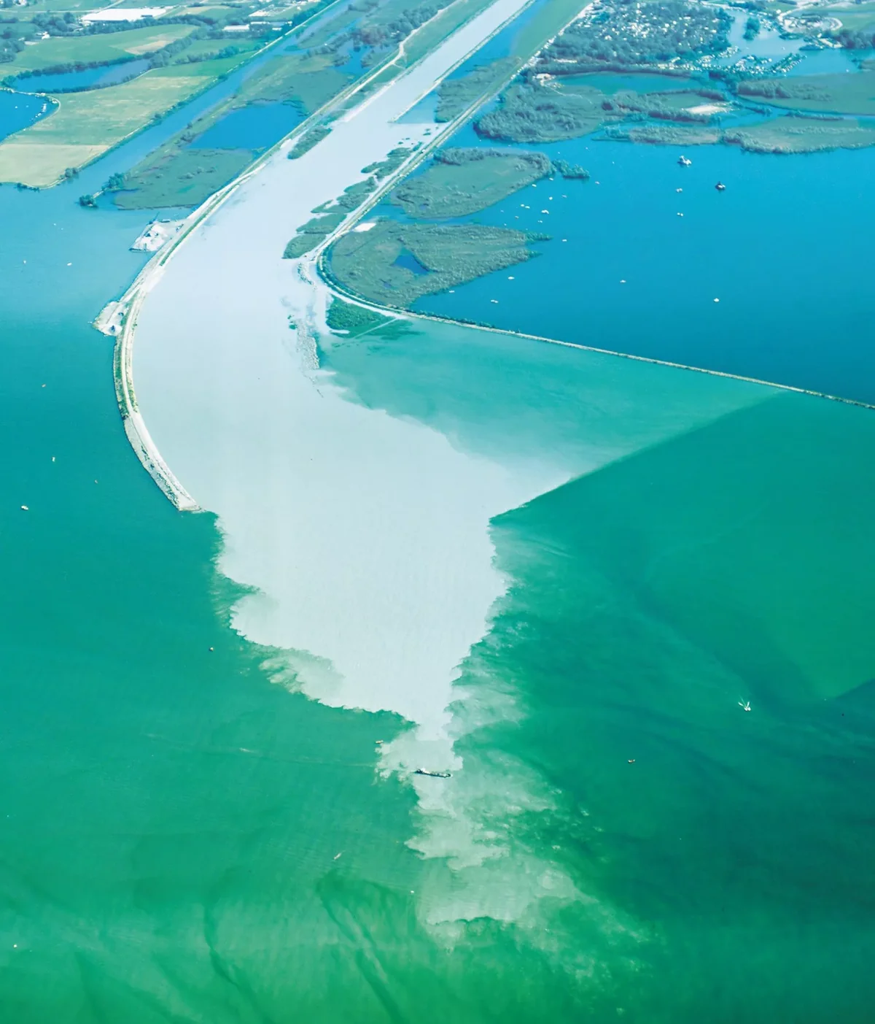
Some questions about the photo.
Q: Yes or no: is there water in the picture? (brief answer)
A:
Yes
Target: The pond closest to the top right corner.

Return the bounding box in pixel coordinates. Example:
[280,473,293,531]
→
[557,70,722,96]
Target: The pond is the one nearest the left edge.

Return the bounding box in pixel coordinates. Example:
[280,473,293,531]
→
[14,58,151,92]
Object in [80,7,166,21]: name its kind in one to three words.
greenhouse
